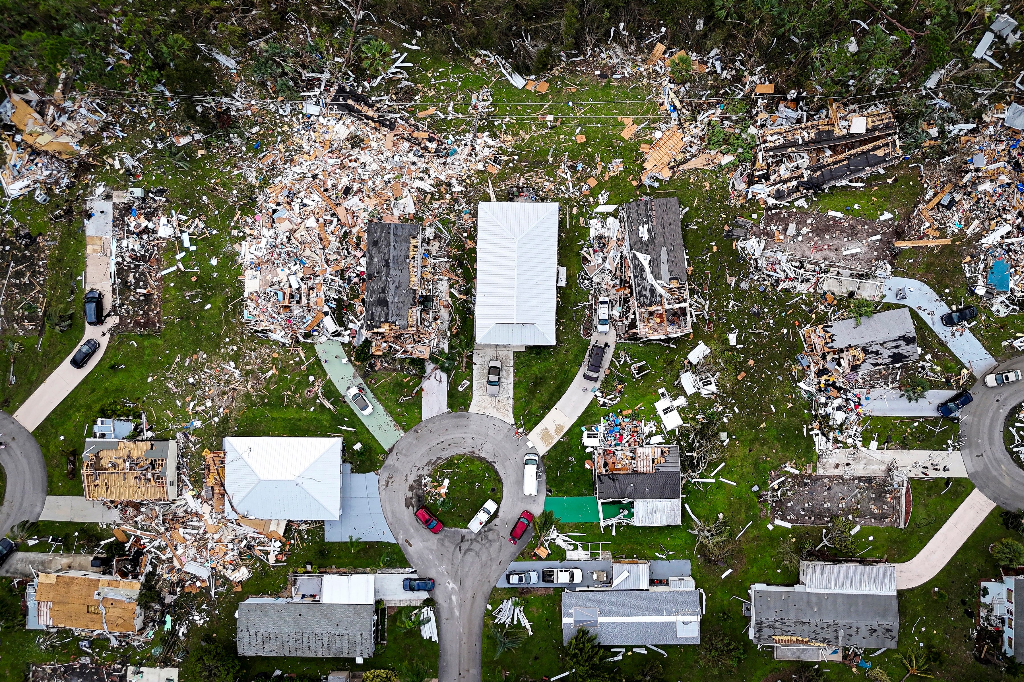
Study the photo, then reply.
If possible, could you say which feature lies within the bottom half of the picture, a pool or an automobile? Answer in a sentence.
There is an automobile within the bottom half of the picture.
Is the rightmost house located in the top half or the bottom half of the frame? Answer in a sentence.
The bottom half of the photo is where the rightmost house is.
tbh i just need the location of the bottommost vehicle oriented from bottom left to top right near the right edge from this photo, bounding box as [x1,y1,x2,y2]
[934,387,975,420]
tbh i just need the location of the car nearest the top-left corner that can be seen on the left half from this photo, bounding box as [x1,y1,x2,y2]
[83,290,104,326]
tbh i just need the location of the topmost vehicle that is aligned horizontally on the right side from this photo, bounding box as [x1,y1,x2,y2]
[939,306,978,326]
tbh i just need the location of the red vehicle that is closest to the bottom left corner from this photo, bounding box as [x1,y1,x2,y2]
[412,505,444,535]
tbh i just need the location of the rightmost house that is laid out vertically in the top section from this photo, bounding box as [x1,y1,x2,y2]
[623,197,692,340]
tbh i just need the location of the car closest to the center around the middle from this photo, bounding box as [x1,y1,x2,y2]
[486,359,502,397]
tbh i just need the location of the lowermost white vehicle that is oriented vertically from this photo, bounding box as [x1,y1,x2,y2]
[522,453,542,497]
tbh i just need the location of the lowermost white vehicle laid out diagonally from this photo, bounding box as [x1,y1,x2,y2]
[466,498,497,536]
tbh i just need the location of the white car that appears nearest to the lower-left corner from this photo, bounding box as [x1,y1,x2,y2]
[348,385,374,417]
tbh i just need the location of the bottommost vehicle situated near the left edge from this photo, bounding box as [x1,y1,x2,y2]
[0,534,21,568]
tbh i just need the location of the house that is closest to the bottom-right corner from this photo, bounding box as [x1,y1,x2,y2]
[979,571,1024,664]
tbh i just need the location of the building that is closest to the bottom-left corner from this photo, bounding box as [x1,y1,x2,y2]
[26,554,150,646]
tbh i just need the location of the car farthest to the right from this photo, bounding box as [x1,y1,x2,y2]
[983,369,1023,387]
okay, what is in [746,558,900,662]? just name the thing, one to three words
house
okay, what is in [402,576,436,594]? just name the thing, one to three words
car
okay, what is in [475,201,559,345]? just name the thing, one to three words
house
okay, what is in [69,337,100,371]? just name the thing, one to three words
car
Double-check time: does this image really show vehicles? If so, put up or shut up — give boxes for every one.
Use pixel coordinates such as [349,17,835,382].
[939,306,978,326]
[505,569,539,587]
[466,498,497,536]
[983,369,1023,387]
[583,343,607,380]
[69,337,100,371]
[505,508,534,547]
[486,359,502,397]
[934,387,975,420]
[83,290,104,326]
[402,576,436,594]
[348,385,374,417]
[596,297,611,332]
[522,453,542,497]
[412,505,444,535]
[541,567,583,586]
[0,534,21,568]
